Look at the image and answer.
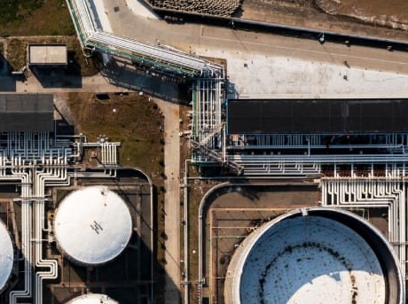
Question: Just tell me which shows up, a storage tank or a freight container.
storage tank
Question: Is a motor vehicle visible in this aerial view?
No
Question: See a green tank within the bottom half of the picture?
No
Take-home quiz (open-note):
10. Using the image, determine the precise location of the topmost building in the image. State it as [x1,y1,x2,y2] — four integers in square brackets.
[28,43,68,70]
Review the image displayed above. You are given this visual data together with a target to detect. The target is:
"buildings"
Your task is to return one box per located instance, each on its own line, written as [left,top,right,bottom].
[0,93,55,135]
[28,43,68,70]
[222,98,408,138]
